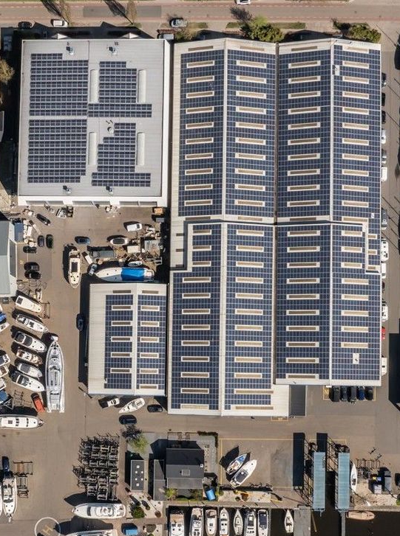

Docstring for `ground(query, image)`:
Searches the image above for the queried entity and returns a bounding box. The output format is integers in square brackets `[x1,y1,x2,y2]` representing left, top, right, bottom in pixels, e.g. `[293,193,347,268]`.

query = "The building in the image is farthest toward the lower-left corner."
[130,459,145,492]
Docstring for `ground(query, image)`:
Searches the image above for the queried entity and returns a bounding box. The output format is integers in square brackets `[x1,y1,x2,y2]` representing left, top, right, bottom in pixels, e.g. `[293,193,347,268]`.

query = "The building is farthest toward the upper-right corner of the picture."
[171,36,381,225]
